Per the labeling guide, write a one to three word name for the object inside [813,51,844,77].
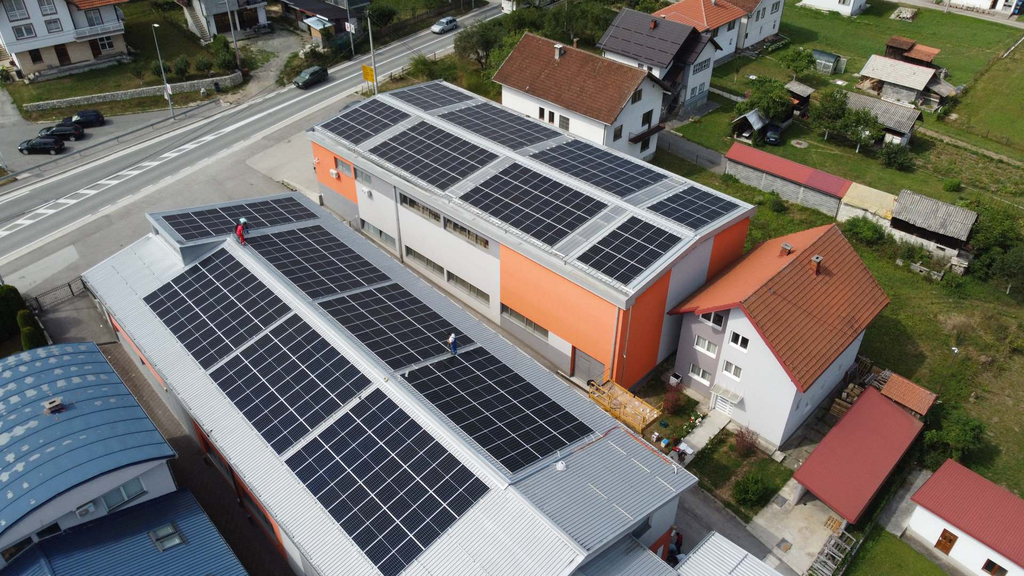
greenhouse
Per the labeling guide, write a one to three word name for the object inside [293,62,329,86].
car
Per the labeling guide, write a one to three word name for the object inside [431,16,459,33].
car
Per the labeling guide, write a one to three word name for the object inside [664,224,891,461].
house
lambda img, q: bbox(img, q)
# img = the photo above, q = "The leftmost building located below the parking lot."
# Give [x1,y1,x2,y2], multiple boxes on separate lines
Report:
[0,343,254,576]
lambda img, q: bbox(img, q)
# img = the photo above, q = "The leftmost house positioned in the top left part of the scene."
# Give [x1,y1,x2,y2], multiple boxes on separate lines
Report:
[0,0,134,82]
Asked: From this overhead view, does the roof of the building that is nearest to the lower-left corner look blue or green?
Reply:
blue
